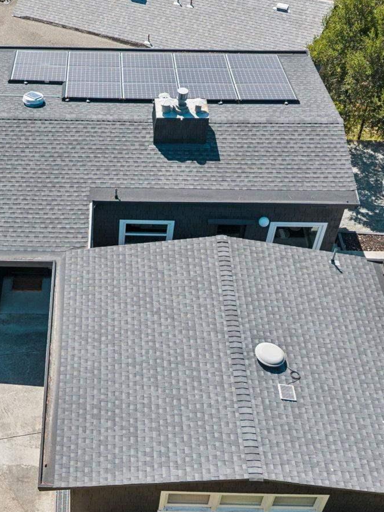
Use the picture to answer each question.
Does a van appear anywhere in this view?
No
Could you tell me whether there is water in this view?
No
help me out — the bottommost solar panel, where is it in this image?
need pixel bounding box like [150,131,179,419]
[280,366,301,398]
